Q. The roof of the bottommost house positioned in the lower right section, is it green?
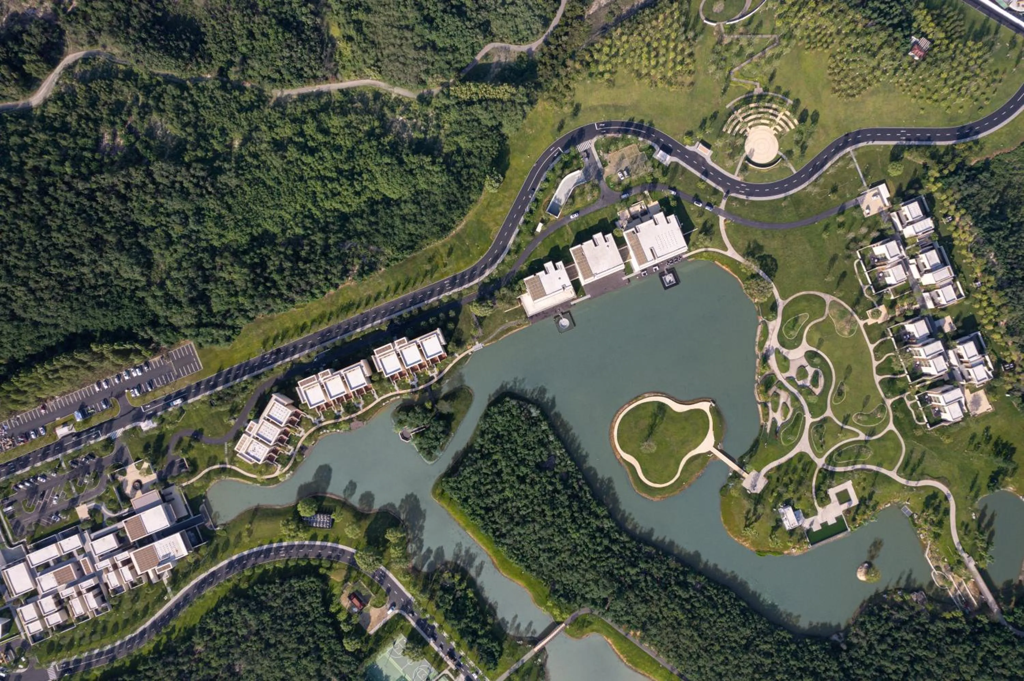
No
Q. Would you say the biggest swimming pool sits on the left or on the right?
right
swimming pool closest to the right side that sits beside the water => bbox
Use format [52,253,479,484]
[808,514,850,549]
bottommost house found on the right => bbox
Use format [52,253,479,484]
[775,505,805,531]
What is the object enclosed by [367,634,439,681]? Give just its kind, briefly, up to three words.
basketball court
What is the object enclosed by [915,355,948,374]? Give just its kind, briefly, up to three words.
house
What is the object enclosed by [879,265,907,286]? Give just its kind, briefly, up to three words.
house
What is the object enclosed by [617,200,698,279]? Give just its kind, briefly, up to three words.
building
